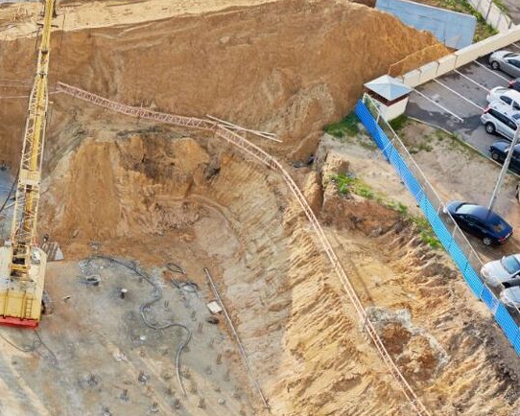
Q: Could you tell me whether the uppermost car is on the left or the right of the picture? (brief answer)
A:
right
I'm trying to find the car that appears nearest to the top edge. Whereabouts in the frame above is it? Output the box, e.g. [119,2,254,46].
[486,47,520,74]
